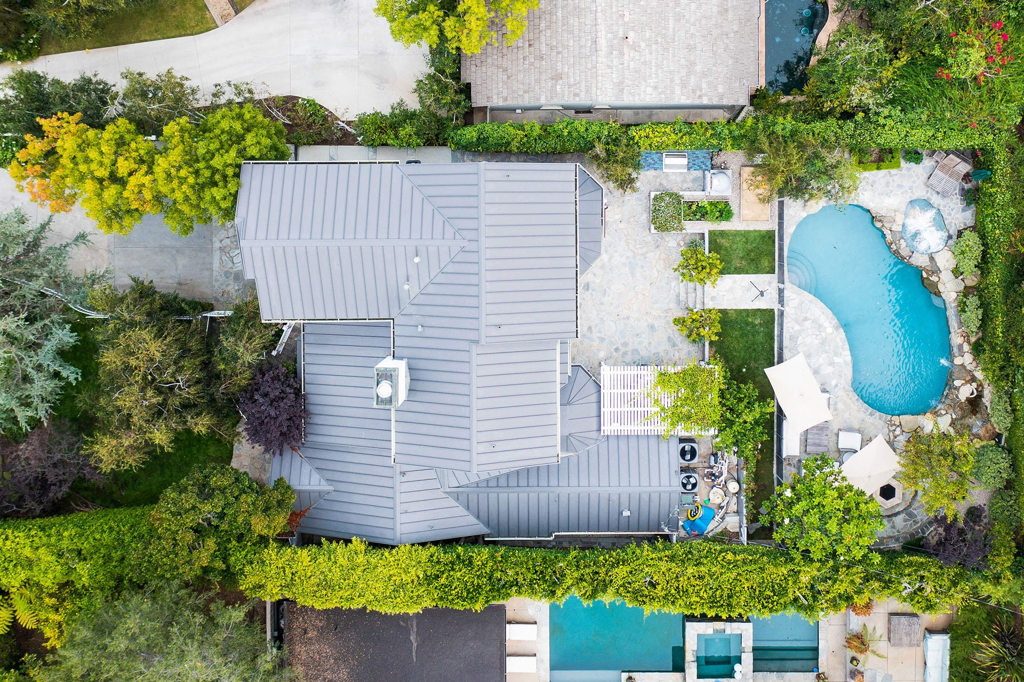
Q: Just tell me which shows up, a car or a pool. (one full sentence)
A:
It is a pool that can be seen here.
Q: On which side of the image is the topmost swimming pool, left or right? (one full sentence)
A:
The topmost swimming pool is on the right side of the image.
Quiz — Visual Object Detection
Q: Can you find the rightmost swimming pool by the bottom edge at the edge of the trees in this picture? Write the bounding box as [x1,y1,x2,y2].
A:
[750,581,818,673]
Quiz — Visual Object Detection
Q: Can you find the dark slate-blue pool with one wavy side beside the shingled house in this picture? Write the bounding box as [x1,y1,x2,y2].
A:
[765,0,830,99]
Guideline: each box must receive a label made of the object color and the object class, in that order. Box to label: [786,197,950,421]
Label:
blue swimming pool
